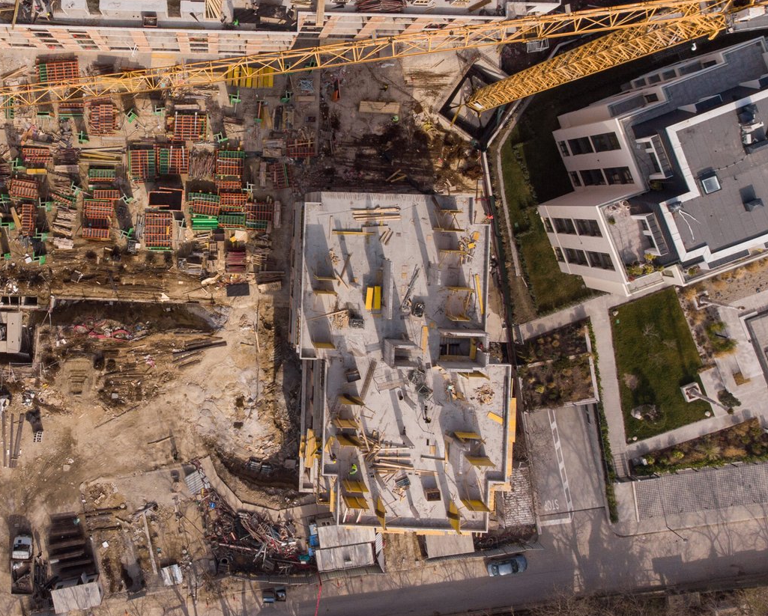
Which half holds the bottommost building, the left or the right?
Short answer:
left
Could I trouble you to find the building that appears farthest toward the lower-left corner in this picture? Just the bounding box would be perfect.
[50,573,104,614]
